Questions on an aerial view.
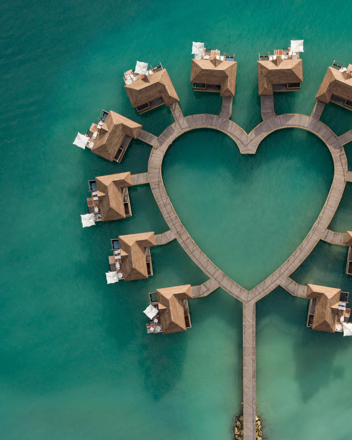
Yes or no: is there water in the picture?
Yes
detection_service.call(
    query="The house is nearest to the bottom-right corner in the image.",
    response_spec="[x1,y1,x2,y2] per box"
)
[304,282,351,333]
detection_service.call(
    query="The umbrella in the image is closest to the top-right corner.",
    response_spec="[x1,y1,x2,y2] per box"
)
[291,40,303,52]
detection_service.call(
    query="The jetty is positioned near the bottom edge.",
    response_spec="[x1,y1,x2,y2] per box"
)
[242,302,256,440]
